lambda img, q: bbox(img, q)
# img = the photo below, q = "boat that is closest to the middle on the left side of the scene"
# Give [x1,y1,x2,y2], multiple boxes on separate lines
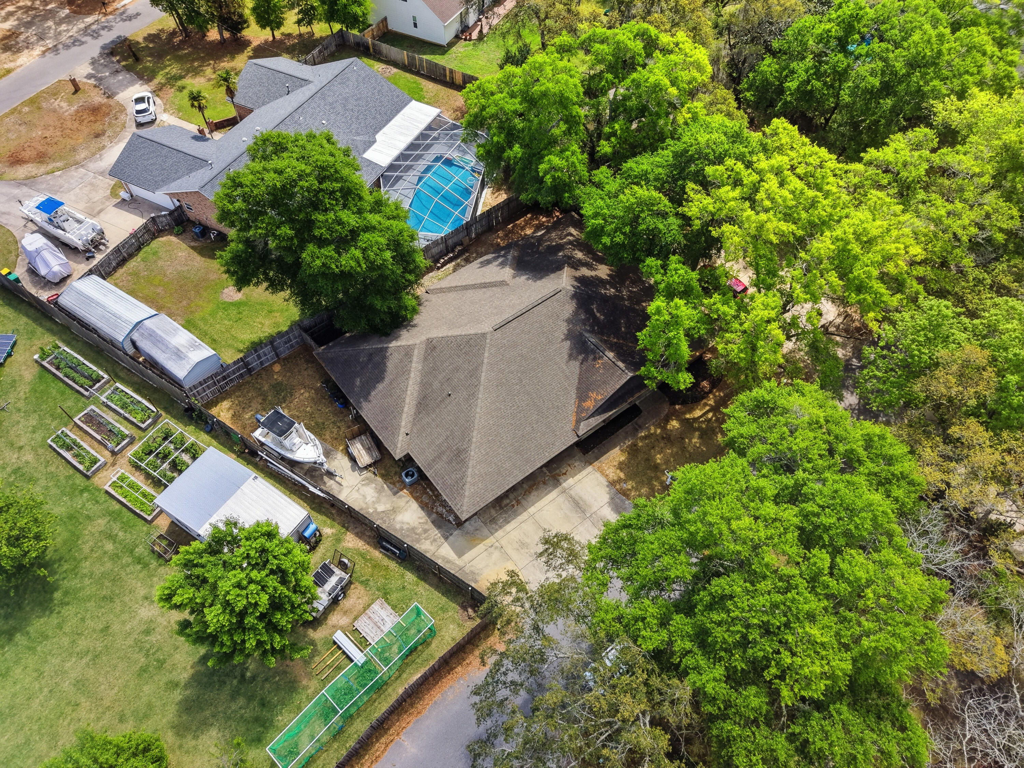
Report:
[250,412,337,476]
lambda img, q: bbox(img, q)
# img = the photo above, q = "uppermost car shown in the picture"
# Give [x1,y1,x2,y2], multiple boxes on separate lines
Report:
[125,88,158,126]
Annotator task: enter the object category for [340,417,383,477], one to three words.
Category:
trailer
